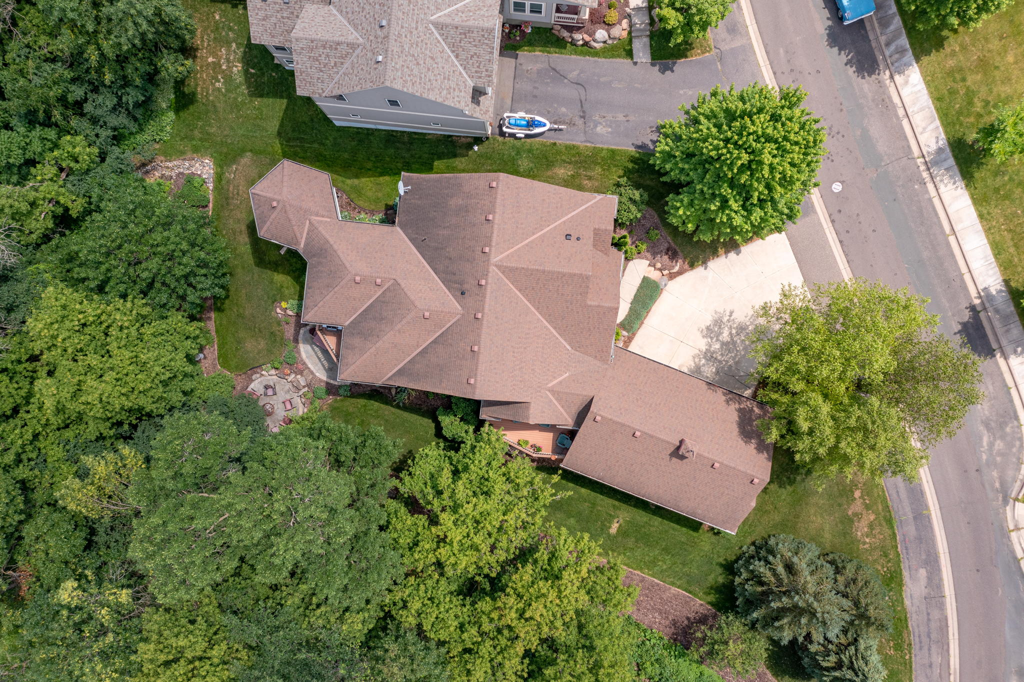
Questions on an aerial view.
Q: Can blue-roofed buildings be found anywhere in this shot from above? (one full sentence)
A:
No, I can see no blue-roofed building in this picture.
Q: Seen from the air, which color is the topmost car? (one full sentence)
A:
The topmost car looks blue in the image.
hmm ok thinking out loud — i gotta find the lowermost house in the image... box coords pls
[247,157,774,536]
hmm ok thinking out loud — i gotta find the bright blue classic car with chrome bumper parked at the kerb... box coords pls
[833,0,876,25]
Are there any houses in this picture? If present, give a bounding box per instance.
[246,0,597,137]
[247,157,774,536]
